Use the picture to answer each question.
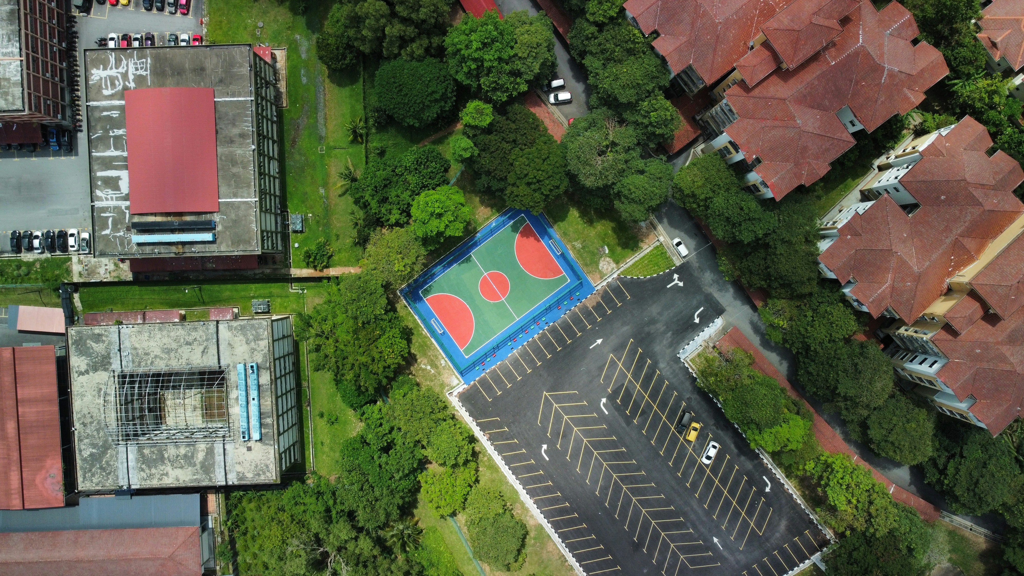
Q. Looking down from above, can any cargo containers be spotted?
No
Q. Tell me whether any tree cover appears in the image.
Yes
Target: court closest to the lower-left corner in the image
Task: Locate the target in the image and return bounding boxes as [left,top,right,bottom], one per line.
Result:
[401,201,594,383]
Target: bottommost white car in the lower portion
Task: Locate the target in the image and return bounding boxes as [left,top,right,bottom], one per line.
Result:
[702,440,717,464]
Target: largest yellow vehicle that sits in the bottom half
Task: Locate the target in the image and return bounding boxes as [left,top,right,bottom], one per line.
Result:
[686,421,700,442]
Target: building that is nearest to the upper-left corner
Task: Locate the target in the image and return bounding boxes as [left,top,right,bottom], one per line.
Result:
[0,0,70,129]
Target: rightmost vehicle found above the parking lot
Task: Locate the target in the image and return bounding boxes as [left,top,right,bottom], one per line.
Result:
[672,236,689,258]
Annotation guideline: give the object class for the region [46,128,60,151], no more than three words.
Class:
car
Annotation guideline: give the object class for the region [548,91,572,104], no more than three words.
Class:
vehicle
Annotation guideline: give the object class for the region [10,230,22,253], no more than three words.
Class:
vehicle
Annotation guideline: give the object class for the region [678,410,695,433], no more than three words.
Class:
car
